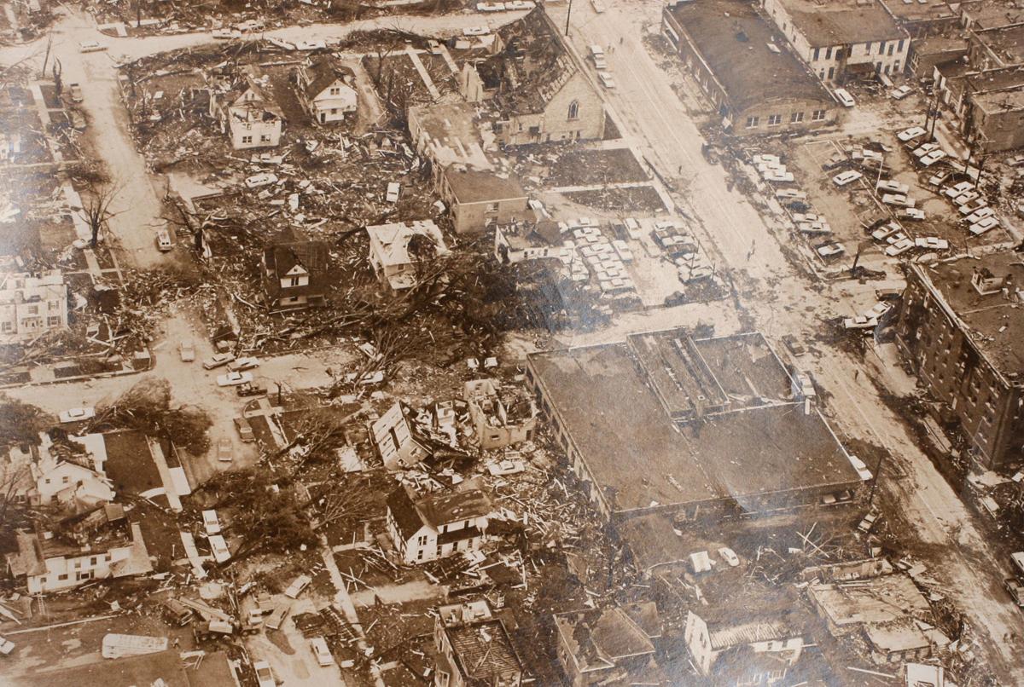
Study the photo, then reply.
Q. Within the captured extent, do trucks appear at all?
Yes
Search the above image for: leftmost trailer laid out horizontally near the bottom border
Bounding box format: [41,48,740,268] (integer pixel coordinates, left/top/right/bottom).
[97,634,172,659]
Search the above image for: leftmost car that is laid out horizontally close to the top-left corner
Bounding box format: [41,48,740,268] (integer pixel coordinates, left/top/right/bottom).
[77,41,111,53]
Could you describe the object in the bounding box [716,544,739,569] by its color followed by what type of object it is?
white car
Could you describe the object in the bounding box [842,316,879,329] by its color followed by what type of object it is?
white vehicle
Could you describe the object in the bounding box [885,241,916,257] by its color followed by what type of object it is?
white car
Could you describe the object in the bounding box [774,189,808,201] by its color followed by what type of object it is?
white vehicle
